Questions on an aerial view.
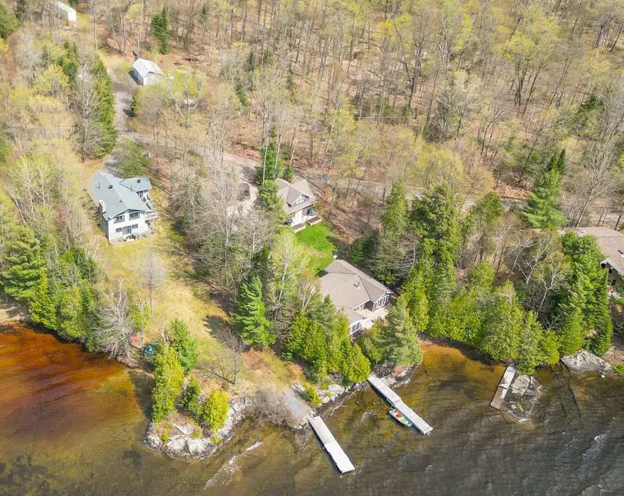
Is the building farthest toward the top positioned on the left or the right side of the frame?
left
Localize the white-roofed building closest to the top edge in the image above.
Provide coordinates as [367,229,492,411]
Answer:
[133,58,162,86]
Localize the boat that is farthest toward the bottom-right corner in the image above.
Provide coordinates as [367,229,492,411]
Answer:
[388,409,416,431]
